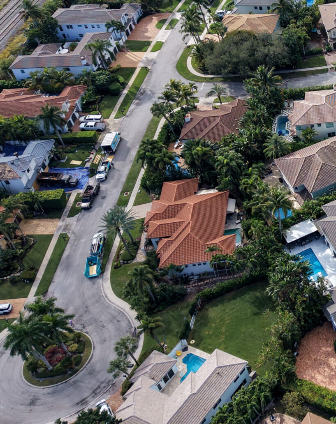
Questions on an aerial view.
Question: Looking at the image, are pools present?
Yes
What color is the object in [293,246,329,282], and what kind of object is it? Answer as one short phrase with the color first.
blue swimming pool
